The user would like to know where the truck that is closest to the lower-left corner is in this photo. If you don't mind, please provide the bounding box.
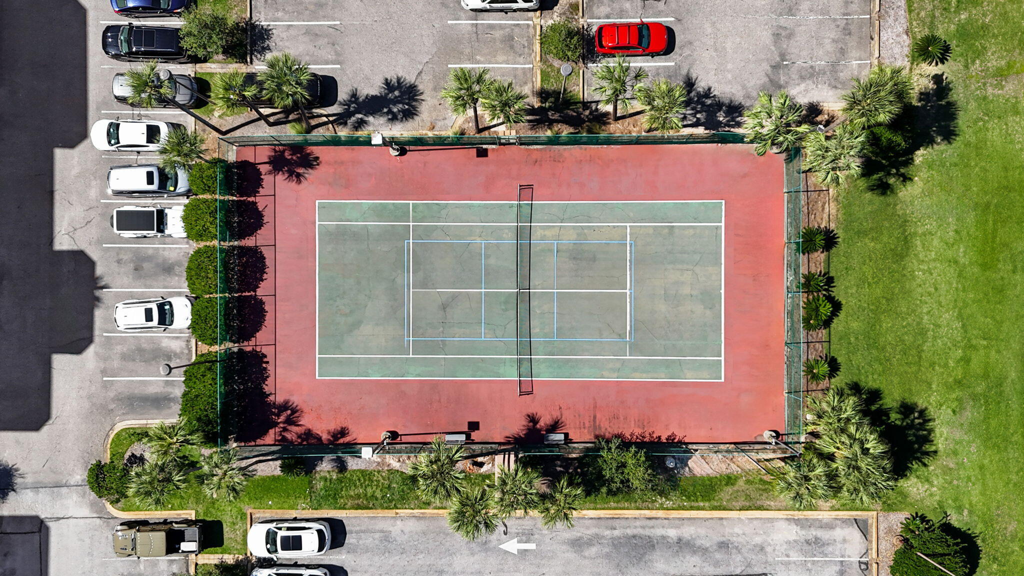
[113,521,206,561]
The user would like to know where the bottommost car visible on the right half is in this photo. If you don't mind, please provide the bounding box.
[593,15,669,55]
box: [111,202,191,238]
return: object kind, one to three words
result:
car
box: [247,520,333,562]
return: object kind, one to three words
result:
car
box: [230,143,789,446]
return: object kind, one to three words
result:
tennis court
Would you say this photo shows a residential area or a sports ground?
sports ground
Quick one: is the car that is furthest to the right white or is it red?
red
